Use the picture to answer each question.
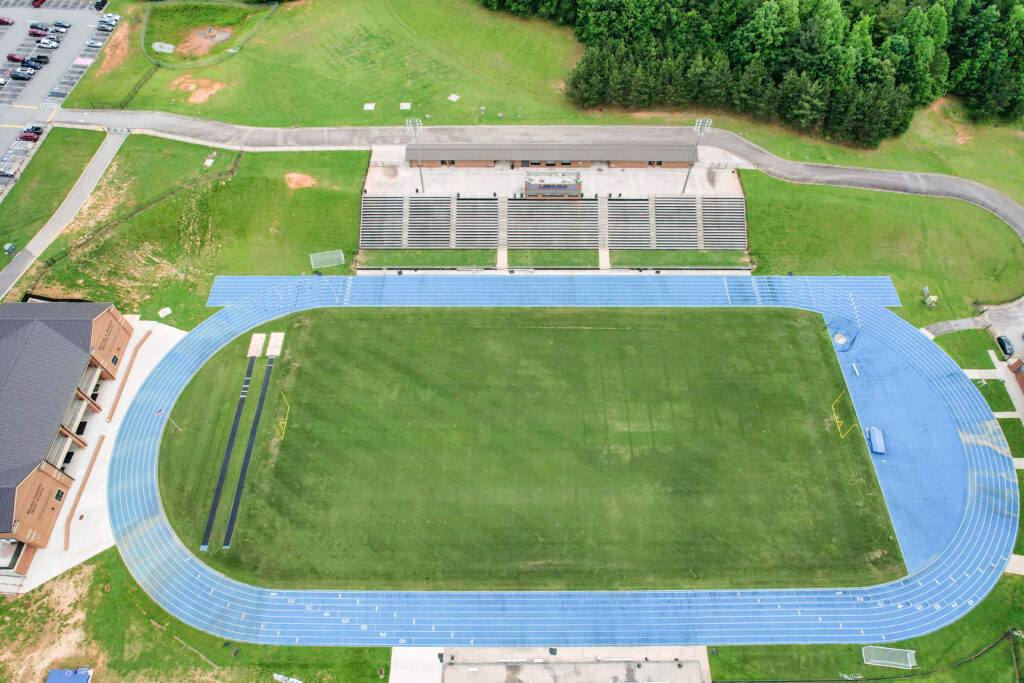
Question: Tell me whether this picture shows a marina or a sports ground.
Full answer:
The picture captures a sports ground.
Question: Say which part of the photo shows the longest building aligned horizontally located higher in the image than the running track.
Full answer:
The longest building aligned horizontally located higher in the image than the running track appears toward the top of the photo.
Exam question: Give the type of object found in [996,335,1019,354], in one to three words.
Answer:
car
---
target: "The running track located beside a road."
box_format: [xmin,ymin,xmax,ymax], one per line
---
[107,275,1019,647]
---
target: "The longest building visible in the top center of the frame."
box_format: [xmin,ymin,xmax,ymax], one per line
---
[403,143,701,167]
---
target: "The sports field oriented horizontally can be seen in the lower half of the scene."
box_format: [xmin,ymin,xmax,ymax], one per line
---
[158,307,907,589]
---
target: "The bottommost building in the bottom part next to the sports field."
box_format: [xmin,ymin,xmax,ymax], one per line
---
[0,300,133,548]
